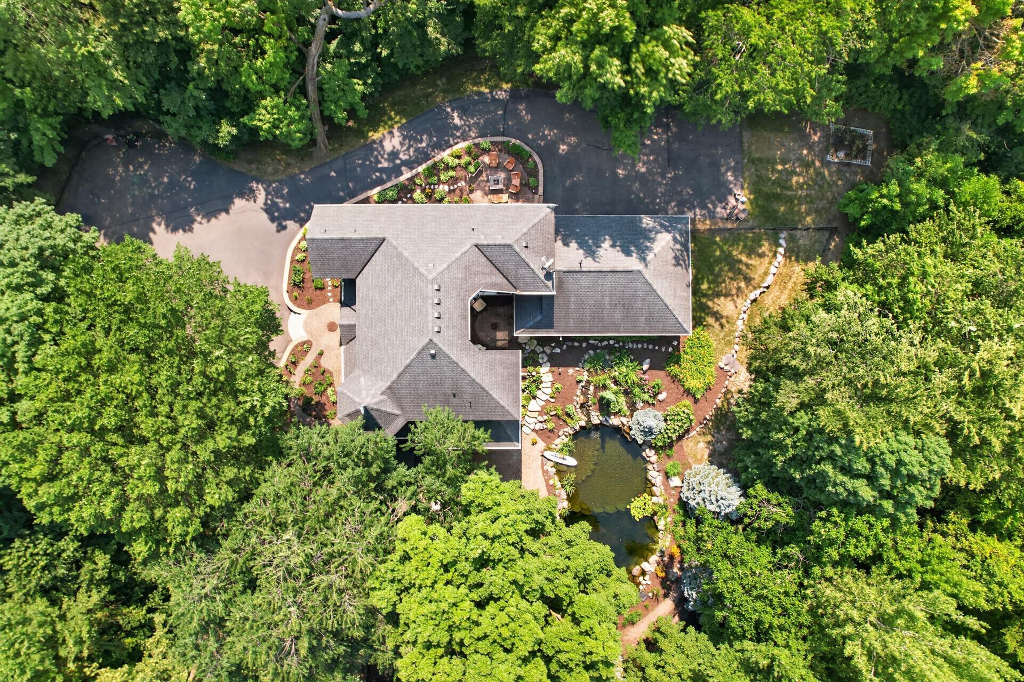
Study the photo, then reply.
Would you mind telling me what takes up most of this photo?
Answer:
trees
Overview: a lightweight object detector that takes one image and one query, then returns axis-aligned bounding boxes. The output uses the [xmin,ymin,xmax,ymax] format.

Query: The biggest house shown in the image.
[305,202,692,449]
